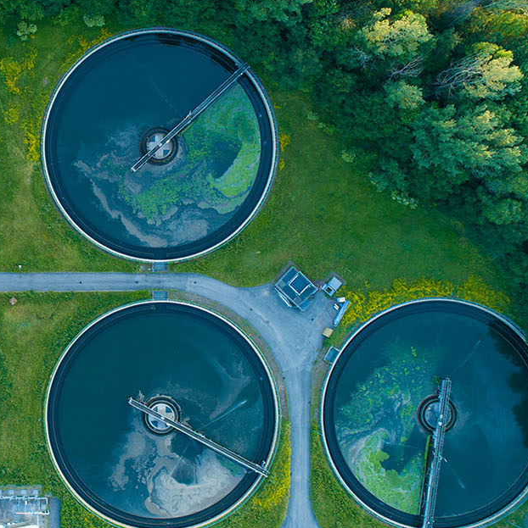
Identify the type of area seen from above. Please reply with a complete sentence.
It's an industrial area.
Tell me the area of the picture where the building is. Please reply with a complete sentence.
Look in the center portion of the view to spot the building.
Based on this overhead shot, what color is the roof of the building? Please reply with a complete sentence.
The roof of the building is blue.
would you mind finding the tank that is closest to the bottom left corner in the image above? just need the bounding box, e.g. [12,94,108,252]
[45,299,283,528]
